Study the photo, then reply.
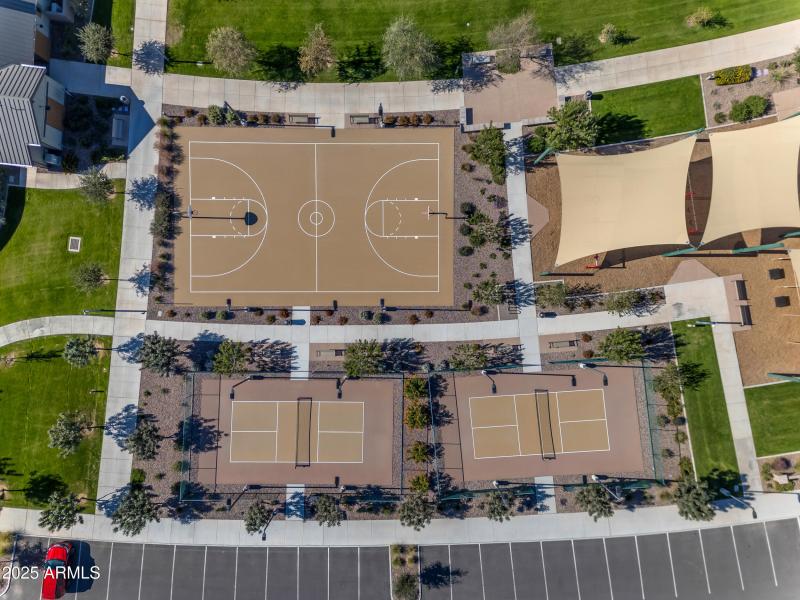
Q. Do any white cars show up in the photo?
No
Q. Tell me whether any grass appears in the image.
Yes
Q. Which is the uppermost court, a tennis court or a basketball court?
basketball court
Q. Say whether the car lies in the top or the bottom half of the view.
bottom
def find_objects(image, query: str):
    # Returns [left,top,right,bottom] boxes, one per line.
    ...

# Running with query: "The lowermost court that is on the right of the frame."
[438,366,644,482]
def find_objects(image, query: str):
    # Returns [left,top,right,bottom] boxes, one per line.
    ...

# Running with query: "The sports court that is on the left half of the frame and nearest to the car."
[198,380,393,484]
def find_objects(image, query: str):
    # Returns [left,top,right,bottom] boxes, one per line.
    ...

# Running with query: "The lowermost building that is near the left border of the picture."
[0,65,63,166]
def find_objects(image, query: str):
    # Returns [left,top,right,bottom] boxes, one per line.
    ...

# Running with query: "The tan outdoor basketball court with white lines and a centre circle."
[173,126,454,306]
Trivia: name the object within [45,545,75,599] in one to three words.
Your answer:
car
